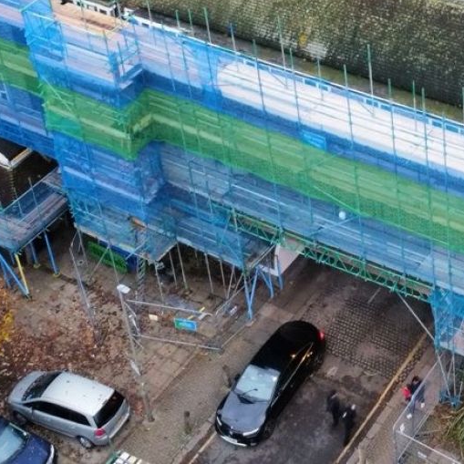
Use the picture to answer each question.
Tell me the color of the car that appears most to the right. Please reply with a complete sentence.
The color of the car that appears most to the right is black.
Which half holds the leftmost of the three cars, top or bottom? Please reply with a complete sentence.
It is in the bottom half that the leftmost of the three cars appears.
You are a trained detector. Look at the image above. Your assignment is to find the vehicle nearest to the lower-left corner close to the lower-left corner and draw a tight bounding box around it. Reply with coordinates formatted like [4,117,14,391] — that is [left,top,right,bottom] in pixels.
[0,410,55,464]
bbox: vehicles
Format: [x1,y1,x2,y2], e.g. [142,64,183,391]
[0,410,55,464]
[13,357,124,447]
[220,319,335,438]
